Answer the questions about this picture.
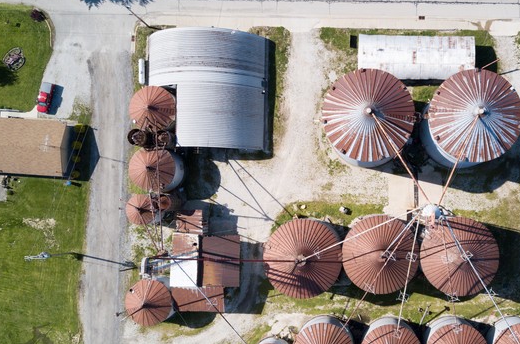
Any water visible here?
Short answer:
No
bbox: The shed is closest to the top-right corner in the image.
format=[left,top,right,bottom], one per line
[353,32,478,81]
